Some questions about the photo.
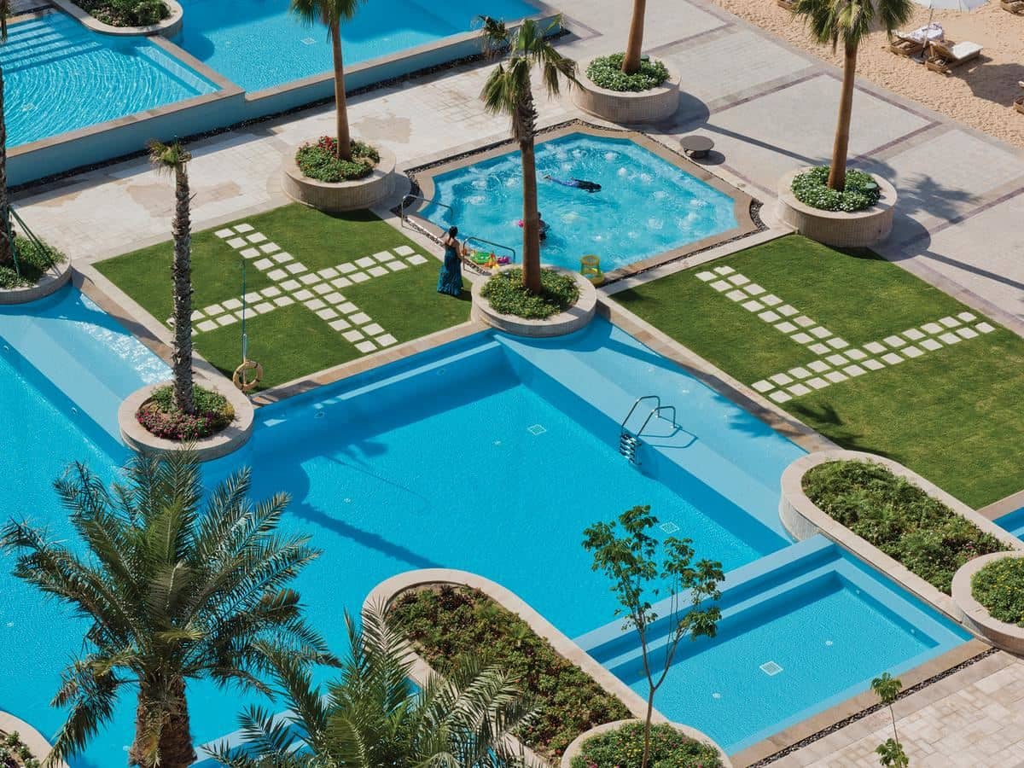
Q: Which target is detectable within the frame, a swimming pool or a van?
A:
swimming pool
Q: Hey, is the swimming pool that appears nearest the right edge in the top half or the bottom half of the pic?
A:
bottom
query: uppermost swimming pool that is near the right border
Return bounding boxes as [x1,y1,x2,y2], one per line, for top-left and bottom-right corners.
[1002,518,1024,542]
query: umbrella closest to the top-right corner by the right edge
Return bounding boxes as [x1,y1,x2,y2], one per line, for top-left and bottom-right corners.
[905,0,1009,64]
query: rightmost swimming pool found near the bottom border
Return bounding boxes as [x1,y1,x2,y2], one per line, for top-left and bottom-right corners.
[600,548,967,756]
